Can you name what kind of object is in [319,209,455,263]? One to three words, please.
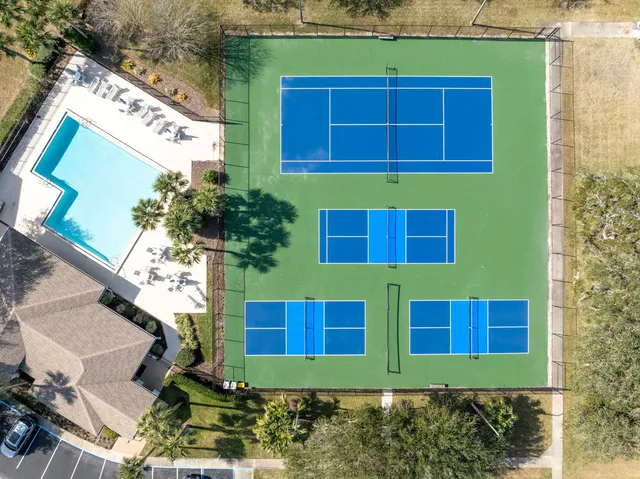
sports court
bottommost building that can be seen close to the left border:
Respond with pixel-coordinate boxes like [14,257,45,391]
[0,226,172,441]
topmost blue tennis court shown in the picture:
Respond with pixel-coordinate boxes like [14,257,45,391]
[281,76,493,174]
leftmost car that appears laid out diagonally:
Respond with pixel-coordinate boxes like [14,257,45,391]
[2,413,37,456]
